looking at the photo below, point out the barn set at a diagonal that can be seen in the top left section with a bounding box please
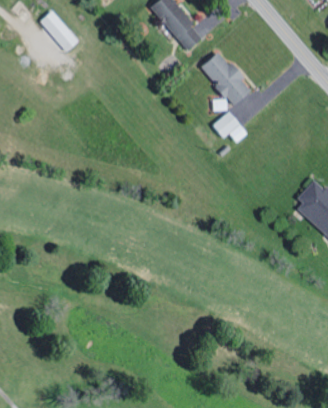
[38,10,78,51]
